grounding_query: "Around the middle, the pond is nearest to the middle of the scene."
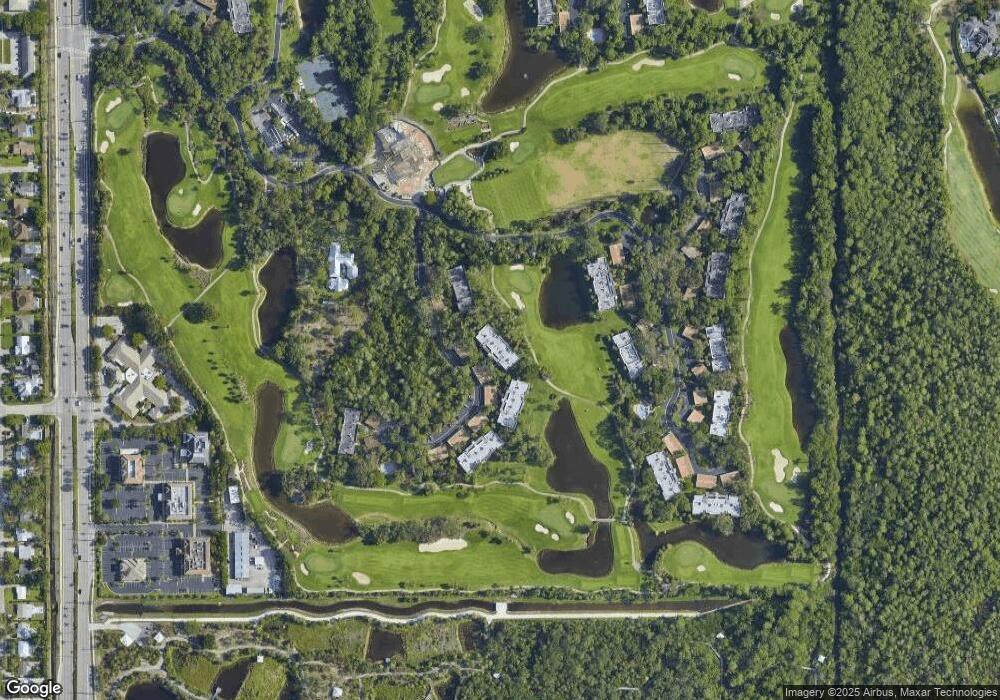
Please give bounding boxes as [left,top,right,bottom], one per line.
[540,252,594,329]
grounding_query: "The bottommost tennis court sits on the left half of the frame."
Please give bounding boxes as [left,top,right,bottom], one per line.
[316,86,351,125]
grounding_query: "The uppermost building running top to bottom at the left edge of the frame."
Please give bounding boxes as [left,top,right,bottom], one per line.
[20,37,35,76]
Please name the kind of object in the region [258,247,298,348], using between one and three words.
pond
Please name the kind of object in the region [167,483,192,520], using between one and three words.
building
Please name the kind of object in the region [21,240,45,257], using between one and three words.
house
